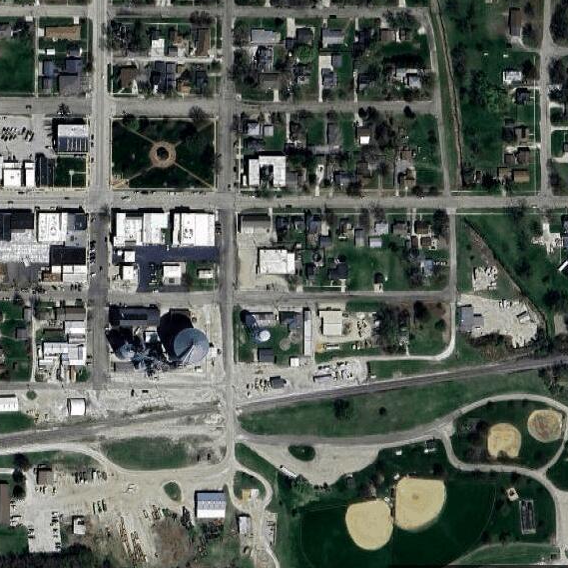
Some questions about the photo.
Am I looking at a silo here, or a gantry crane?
silo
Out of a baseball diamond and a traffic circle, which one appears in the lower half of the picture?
baseball diamond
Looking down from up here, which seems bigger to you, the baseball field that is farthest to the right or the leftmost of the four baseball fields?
the leftmost of the four baseball fields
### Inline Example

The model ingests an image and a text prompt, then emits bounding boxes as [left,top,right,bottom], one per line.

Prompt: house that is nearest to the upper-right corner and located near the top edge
[509,7,523,35]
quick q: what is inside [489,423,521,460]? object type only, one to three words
baseball field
